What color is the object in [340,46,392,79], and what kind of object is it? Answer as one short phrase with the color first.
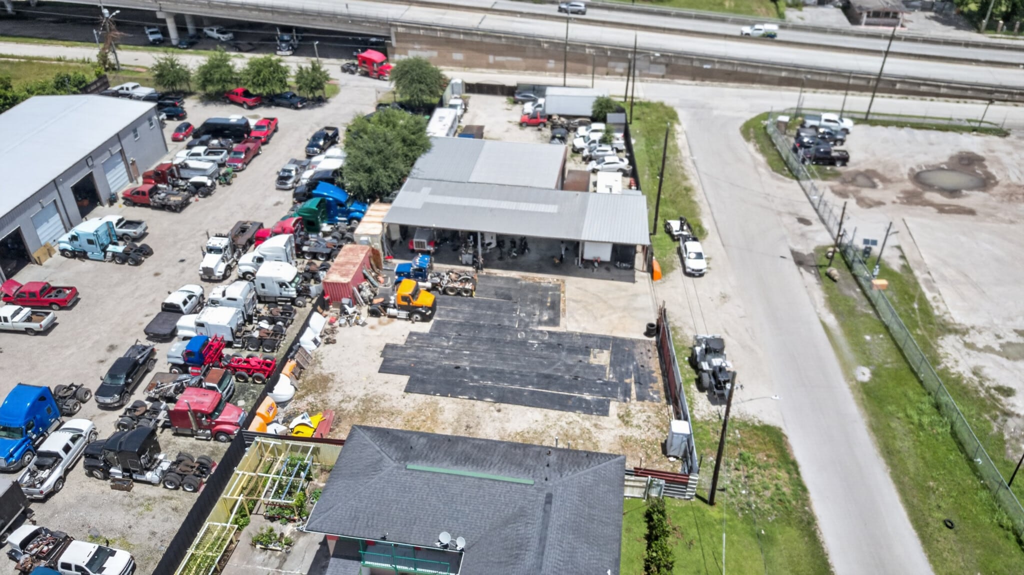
red truck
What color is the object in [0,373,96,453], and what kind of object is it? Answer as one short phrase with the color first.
blue truck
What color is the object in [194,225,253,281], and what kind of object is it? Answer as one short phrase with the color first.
white truck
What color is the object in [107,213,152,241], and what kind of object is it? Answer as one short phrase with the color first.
gray truck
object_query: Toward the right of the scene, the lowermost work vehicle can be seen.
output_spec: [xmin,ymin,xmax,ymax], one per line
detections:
[686,323,743,392]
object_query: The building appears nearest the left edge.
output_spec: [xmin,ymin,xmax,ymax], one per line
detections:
[0,93,168,278]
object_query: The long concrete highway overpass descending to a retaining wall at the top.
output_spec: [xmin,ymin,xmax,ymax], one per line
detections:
[0,0,1024,102]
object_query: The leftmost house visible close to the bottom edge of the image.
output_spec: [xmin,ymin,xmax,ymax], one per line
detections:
[302,424,628,575]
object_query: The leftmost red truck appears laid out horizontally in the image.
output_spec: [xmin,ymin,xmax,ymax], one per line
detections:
[0,271,86,310]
